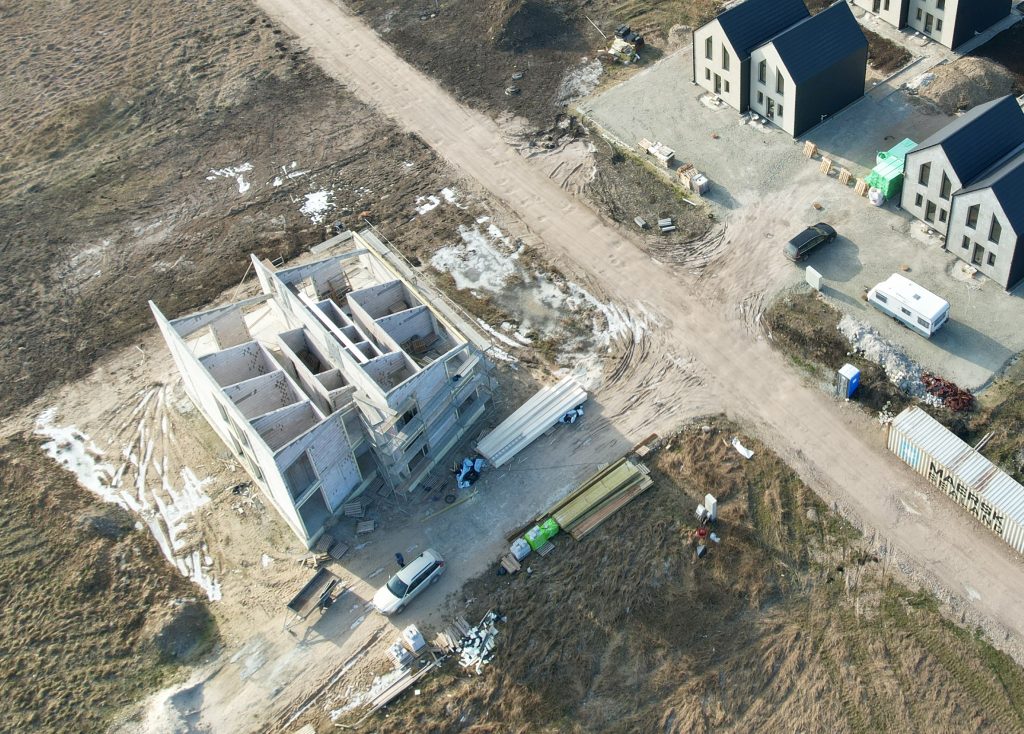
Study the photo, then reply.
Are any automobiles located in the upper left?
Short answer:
No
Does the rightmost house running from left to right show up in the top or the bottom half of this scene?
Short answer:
top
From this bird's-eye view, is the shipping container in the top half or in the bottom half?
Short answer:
bottom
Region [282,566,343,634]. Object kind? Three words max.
trailer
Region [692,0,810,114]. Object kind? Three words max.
house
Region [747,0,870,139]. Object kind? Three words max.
house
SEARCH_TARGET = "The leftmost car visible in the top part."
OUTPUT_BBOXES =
[780,218,844,264]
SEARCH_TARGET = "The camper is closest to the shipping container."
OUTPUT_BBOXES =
[865,266,951,335]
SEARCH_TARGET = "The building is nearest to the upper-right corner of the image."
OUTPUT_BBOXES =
[902,0,1016,52]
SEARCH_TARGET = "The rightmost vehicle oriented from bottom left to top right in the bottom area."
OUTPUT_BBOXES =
[369,547,447,614]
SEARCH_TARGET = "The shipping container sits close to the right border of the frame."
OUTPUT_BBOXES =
[887,406,1024,556]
